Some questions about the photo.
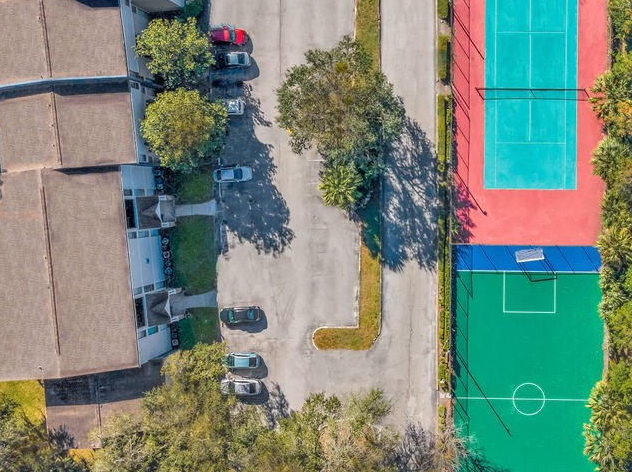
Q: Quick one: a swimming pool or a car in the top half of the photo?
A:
car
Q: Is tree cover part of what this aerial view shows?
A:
Yes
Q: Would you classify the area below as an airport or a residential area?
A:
residential area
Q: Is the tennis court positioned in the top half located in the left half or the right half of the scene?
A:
right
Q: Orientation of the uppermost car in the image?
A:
horizontally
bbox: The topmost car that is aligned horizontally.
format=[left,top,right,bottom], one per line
[210,26,250,46]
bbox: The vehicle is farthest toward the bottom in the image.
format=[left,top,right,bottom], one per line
[221,377,264,397]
